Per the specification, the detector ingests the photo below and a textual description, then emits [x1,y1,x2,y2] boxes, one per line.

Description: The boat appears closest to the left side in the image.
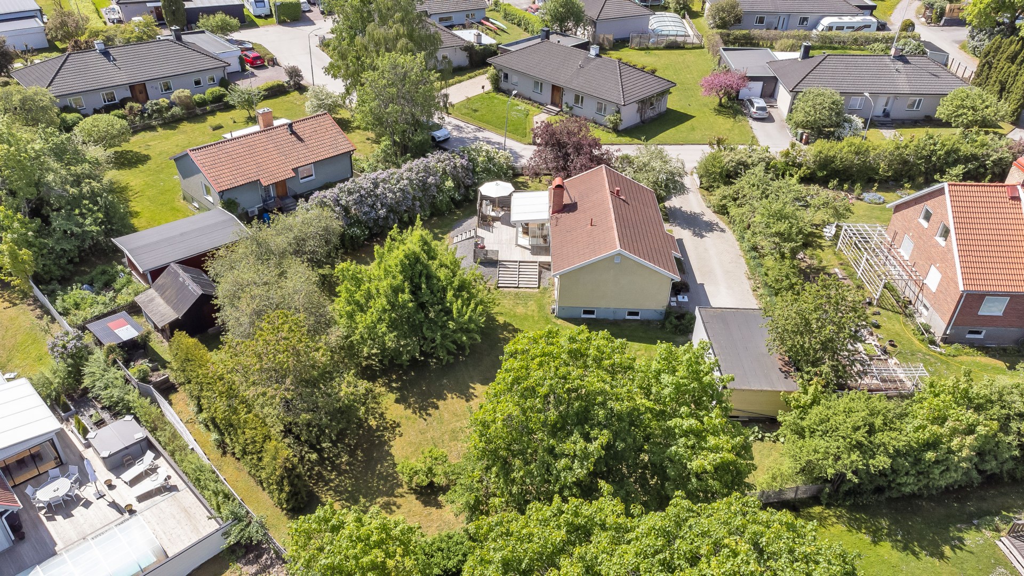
[105,9,121,22]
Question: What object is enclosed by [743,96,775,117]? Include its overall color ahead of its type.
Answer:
gray car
